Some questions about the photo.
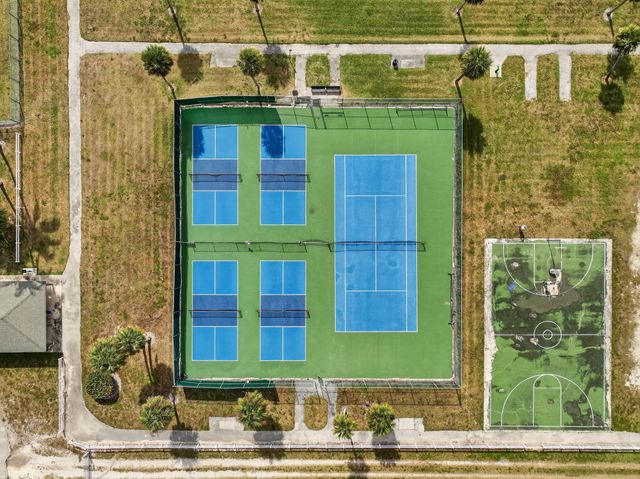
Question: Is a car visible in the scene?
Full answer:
No, this view has no car in it.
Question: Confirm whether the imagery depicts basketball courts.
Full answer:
Yes, there is a basketball court in the image.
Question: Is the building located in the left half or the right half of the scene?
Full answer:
You can find the building on the left side of the picture.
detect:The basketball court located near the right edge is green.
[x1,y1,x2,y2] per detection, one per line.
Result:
[484,238,612,432]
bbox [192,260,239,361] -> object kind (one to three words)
sports court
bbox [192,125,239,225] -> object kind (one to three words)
sports court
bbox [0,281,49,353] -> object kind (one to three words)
building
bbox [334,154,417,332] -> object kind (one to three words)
tennis court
